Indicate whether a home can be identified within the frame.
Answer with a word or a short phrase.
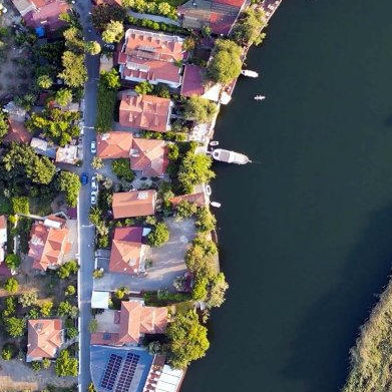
Yes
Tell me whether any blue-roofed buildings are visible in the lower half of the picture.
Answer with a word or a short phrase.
Yes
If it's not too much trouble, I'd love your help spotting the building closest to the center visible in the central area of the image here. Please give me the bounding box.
[169,193,205,210]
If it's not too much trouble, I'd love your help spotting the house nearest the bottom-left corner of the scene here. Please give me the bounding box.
[27,317,68,358]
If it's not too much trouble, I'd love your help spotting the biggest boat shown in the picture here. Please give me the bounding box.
[210,147,251,163]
